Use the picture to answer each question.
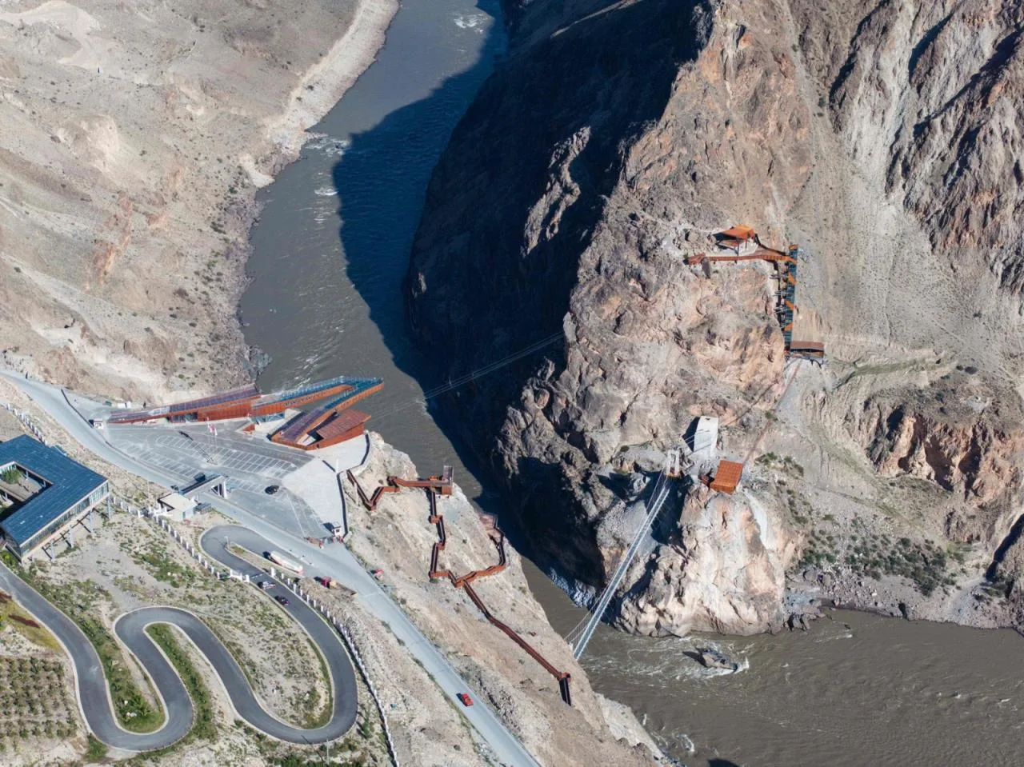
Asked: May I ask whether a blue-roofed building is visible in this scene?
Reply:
Yes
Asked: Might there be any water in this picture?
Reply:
Yes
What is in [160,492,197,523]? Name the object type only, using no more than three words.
building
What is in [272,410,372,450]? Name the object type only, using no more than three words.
building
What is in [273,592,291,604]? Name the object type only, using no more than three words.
vehicle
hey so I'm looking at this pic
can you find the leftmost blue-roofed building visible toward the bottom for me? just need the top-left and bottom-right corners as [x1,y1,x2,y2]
[0,434,110,567]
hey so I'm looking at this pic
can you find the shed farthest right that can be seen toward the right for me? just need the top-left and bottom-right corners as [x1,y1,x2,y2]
[790,341,825,363]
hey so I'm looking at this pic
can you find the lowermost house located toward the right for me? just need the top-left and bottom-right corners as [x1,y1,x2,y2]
[703,461,743,493]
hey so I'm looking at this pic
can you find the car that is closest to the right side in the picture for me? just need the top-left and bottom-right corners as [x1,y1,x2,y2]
[457,689,473,705]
